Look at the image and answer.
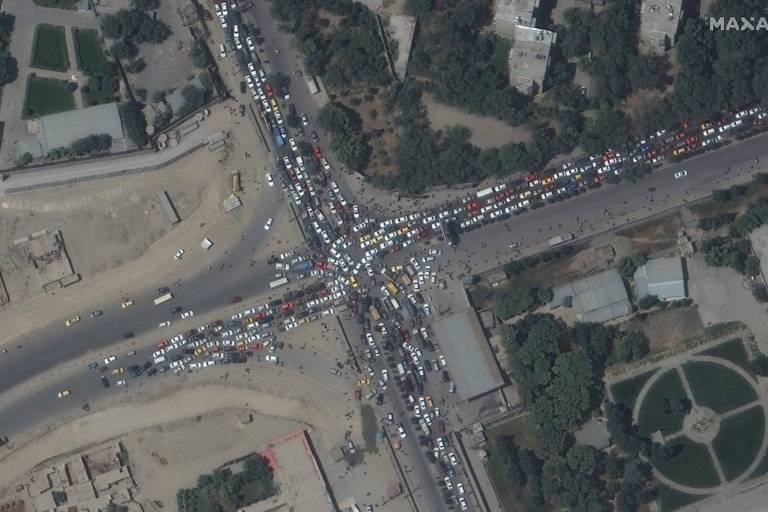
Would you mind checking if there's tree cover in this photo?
Yes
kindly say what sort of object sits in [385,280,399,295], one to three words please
vehicle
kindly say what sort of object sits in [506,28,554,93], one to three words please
building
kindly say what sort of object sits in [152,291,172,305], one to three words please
vehicle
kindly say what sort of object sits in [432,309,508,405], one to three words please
shed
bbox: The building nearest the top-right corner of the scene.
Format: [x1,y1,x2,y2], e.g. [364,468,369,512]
[637,0,683,51]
